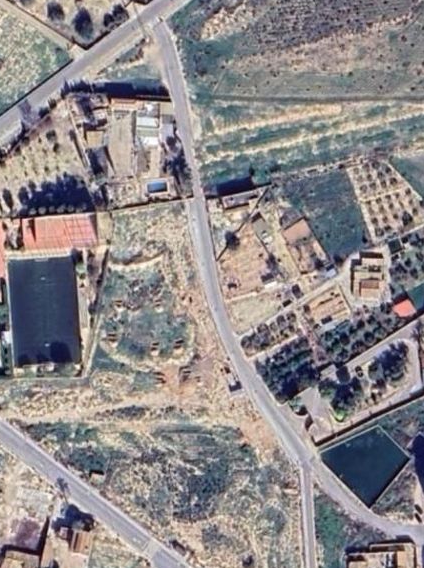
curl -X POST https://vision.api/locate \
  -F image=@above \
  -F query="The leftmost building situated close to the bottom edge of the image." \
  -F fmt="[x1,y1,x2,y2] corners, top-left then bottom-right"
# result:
[1,552,40,568]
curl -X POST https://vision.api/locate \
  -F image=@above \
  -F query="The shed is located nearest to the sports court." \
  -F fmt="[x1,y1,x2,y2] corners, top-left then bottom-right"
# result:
[88,146,115,175]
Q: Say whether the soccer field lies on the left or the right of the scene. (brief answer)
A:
left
